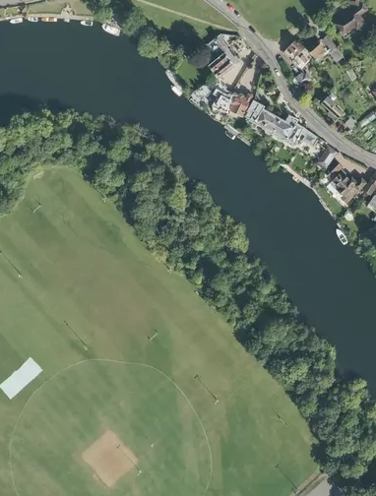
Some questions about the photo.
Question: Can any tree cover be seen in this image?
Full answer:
Yes, tree cover can be seen from above here.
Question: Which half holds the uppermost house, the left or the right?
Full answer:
The uppermost house sits on the right side.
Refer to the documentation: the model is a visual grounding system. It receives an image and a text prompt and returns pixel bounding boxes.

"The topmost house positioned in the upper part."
[336,2,373,38]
